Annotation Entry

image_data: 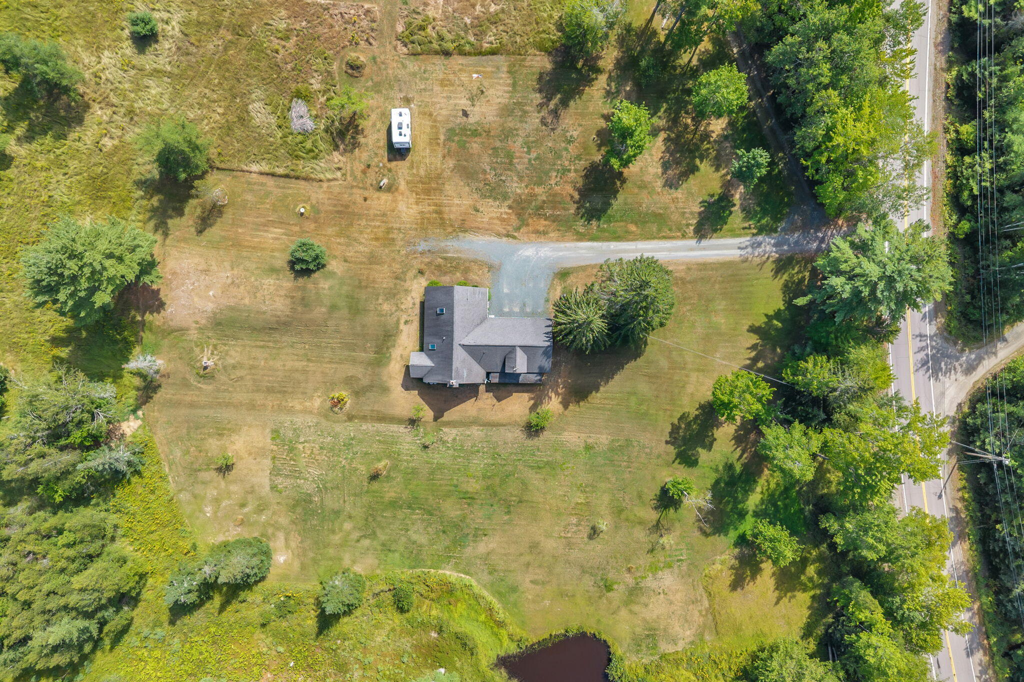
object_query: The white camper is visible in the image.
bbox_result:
[392,109,412,156]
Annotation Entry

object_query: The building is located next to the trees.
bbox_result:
[410,285,553,387]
